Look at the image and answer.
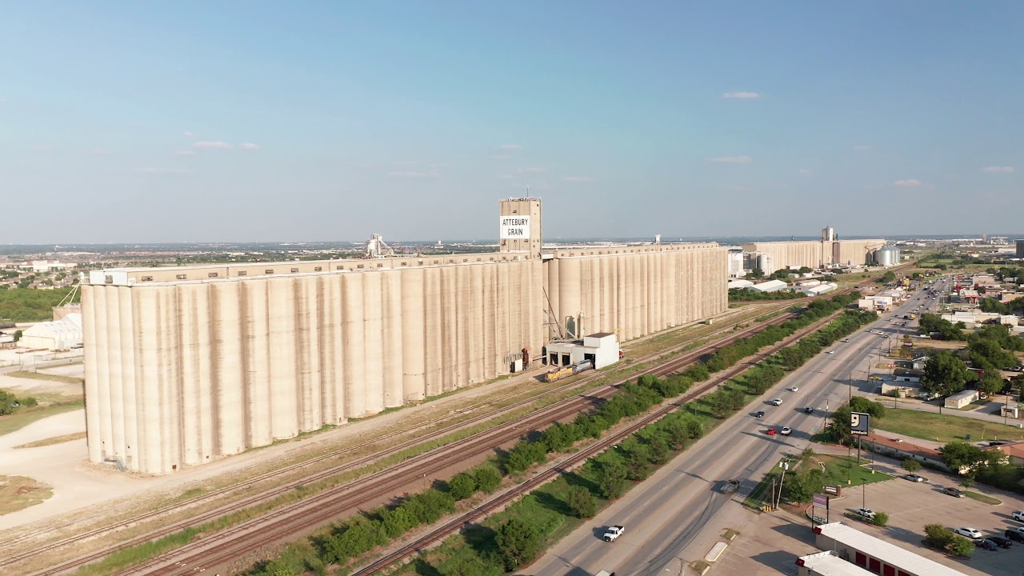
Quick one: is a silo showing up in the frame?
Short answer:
Yes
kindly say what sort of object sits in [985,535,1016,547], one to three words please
vehicle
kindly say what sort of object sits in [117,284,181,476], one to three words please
silo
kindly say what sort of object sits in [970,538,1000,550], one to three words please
vehicle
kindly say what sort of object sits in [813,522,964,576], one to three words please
building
